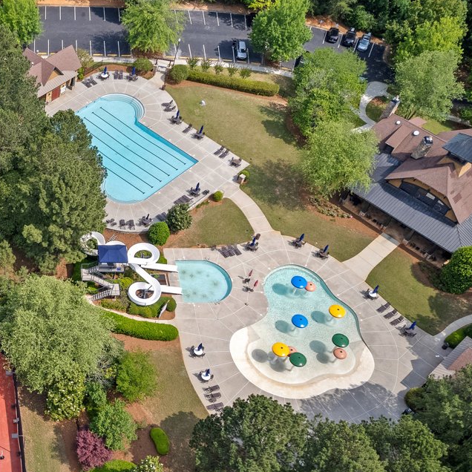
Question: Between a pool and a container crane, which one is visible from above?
pool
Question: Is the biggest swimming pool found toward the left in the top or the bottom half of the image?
top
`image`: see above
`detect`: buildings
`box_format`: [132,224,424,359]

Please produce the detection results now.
[327,97,472,269]
[3,45,82,106]
[421,322,472,415]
